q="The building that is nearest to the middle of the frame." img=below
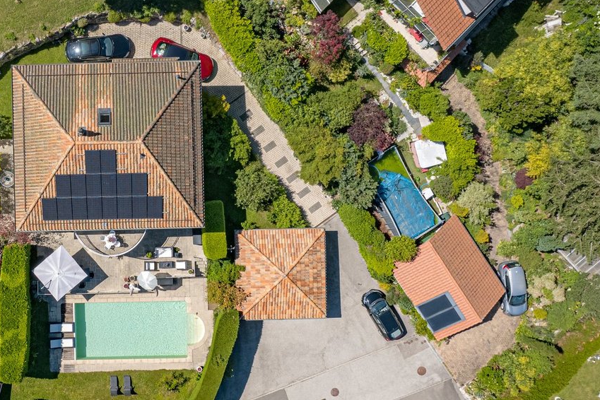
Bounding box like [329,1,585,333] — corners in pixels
[234,228,329,322]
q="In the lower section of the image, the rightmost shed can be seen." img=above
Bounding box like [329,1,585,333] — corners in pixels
[387,217,506,340]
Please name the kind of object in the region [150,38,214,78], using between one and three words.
car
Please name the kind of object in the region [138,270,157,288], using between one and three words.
umbrella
